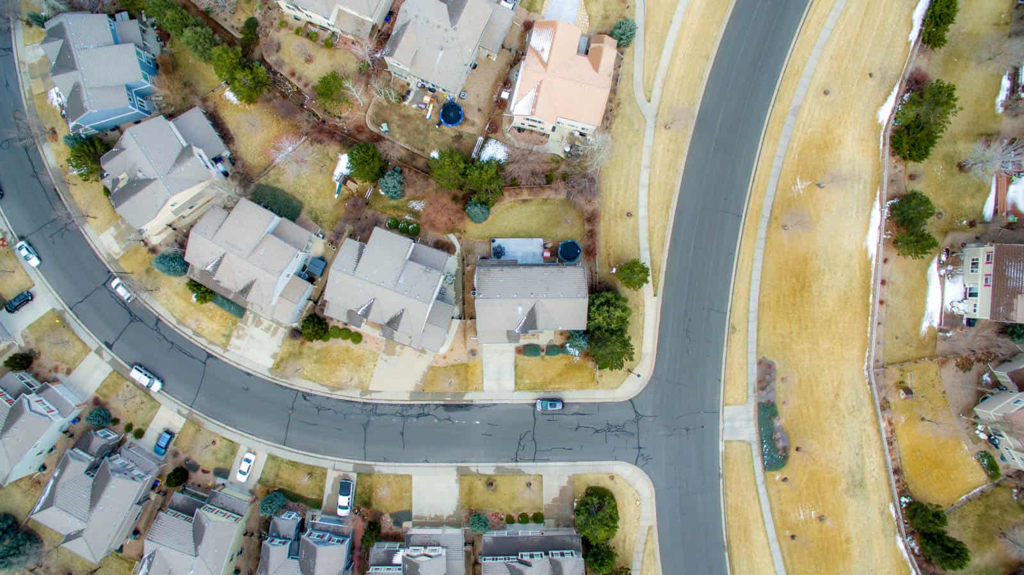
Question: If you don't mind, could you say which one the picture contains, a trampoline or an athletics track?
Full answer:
Visible in the photo is a trampoline.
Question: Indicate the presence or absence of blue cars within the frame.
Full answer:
Yes, I can see a blue car in this picture.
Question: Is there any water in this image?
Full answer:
No, water can't be seen anywhere here.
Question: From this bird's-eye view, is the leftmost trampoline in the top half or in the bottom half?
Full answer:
You can find the leftmost trampoline in the top half.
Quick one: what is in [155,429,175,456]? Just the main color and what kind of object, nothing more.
blue car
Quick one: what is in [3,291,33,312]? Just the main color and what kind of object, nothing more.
blue car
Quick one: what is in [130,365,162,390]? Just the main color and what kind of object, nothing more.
white vehicle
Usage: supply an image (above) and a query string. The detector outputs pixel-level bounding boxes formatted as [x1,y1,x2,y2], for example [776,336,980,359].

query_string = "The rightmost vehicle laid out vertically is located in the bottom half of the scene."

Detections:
[337,480,352,515]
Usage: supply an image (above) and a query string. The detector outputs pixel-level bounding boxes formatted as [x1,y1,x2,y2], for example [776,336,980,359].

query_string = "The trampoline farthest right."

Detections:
[555,239,581,263]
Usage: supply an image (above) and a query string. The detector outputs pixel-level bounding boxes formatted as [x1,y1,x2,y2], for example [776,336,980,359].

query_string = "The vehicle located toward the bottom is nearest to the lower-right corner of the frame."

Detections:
[537,399,563,412]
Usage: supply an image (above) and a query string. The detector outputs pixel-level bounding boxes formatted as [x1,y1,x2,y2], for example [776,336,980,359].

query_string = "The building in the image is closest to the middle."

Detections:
[475,259,589,345]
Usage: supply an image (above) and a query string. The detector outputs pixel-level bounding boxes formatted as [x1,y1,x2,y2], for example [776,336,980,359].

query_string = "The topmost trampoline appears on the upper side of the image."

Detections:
[437,101,464,126]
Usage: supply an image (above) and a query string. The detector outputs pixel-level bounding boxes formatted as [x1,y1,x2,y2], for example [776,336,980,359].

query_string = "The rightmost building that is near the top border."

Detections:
[513,17,618,133]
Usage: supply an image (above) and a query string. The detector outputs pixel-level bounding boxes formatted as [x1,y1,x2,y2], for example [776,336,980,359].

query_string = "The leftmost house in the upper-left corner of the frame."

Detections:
[39,10,159,138]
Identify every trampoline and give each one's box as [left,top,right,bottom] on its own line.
[555,239,581,263]
[437,101,464,126]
